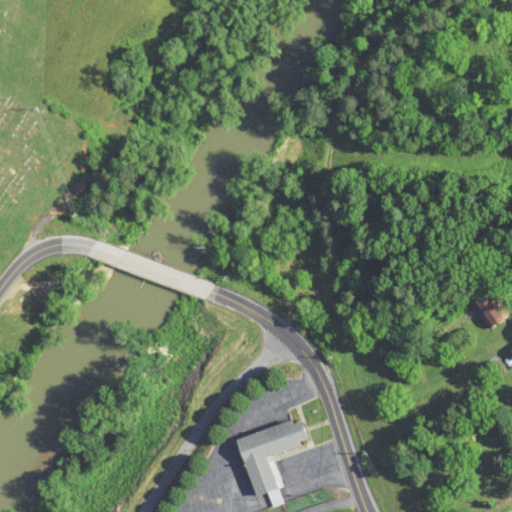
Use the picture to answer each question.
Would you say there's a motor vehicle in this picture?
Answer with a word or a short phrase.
No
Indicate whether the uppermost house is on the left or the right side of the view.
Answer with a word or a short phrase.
right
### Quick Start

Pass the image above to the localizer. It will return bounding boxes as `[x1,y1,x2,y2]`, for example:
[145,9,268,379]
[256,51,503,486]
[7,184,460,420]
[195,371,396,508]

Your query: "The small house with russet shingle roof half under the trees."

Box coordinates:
[478,298,510,330]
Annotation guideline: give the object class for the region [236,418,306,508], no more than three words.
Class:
building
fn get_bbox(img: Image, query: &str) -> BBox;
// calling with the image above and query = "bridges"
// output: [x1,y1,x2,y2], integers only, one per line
[88,241,214,299]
